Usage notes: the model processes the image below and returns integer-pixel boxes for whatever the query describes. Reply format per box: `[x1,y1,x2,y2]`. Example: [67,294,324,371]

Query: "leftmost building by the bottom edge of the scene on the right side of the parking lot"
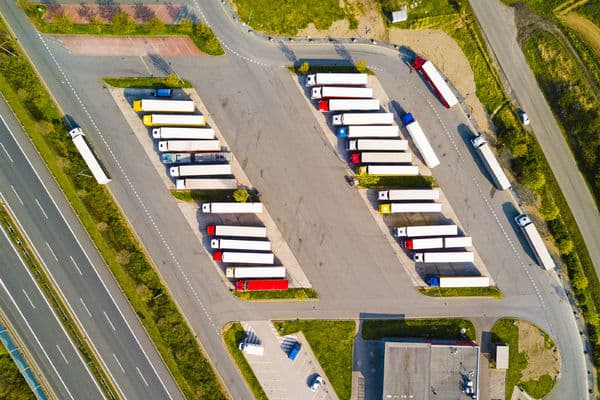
[384,340,432,400]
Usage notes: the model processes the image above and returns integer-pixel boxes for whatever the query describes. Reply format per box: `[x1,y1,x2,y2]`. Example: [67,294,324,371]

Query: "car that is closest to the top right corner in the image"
[518,111,530,127]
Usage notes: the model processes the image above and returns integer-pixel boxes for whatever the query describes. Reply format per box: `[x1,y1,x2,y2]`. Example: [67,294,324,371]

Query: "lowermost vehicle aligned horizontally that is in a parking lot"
[240,341,265,355]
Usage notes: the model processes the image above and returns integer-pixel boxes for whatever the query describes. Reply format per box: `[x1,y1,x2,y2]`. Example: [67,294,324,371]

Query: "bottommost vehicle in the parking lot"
[309,373,323,391]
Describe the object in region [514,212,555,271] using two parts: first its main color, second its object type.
white truck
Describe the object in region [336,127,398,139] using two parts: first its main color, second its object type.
white vehicle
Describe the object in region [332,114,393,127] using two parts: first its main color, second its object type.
white vehicle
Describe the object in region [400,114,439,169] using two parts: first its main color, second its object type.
white truck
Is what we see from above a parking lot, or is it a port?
parking lot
